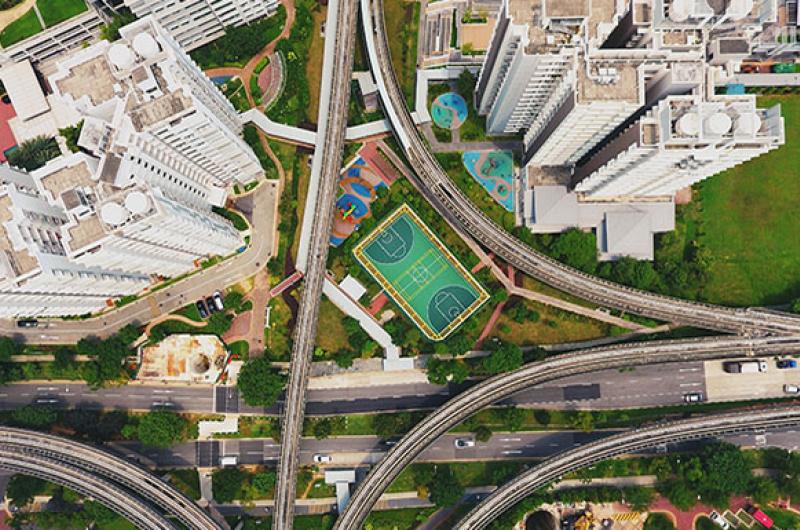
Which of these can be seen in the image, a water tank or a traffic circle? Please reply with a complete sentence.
The one in the frame is a water tank.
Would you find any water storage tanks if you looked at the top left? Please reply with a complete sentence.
Yes, at the top left there is a water storage tank.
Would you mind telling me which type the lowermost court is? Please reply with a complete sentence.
I'd identify the lowermost court as a basketball court.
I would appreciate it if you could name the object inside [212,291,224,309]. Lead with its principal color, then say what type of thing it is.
white vehicle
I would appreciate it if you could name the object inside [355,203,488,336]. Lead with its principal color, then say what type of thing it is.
green basketball court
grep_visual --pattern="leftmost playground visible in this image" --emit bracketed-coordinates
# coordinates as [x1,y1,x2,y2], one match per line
[331,141,398,246]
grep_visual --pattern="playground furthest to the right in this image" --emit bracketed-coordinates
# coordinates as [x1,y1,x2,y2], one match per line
[462,149,514,211]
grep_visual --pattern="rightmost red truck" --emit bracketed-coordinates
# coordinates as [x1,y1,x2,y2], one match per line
[748,505,778,530]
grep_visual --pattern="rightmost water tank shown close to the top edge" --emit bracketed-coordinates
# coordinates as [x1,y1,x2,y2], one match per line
[716,0,757,28]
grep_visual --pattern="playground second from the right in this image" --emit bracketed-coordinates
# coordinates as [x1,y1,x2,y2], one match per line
[431,91,467,129]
